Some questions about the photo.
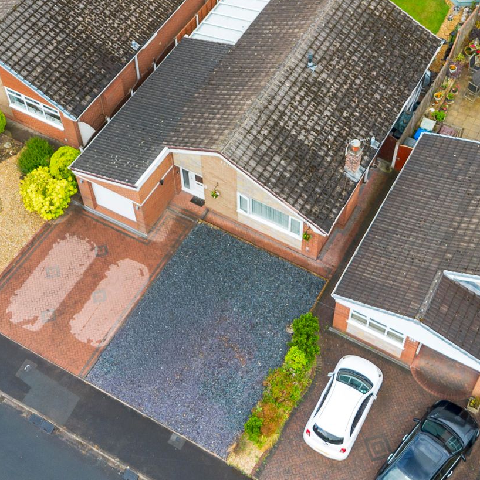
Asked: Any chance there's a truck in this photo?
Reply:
No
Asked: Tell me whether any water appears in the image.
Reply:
No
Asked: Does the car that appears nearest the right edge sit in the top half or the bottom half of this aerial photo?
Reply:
bottom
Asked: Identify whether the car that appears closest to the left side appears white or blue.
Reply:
white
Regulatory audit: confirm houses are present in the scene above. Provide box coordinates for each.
[329,129,480,395]
[65,0,446,258]
[0,0,204,147]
